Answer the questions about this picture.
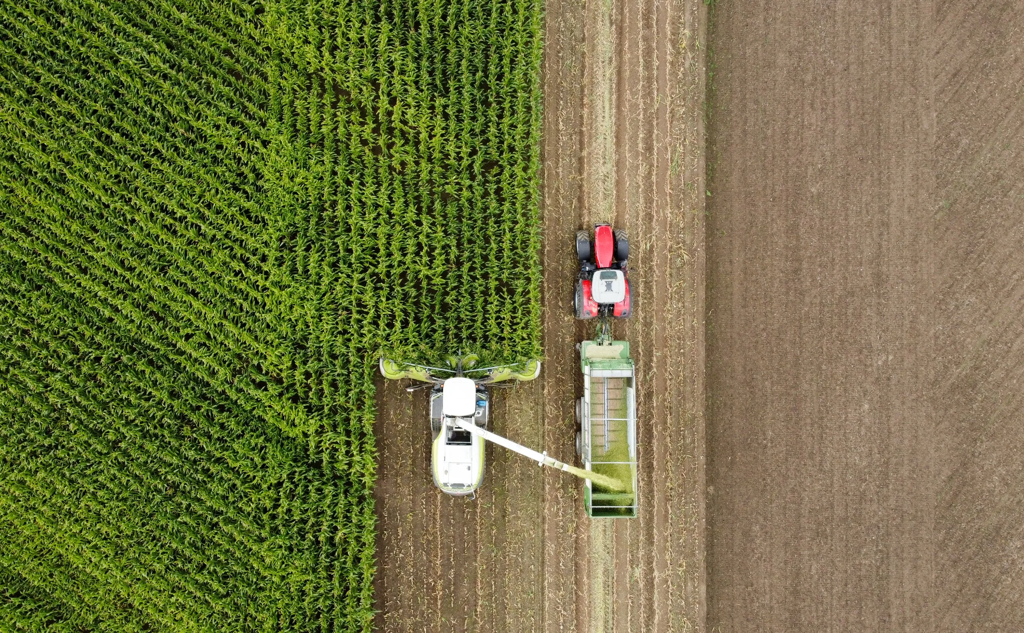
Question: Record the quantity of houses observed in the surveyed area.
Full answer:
The count of houses is 0.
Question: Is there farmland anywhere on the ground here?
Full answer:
Yes, some farmland is visible.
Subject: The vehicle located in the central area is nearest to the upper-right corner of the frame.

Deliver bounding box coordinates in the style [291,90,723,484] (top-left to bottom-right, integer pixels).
[573,223,637,320]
